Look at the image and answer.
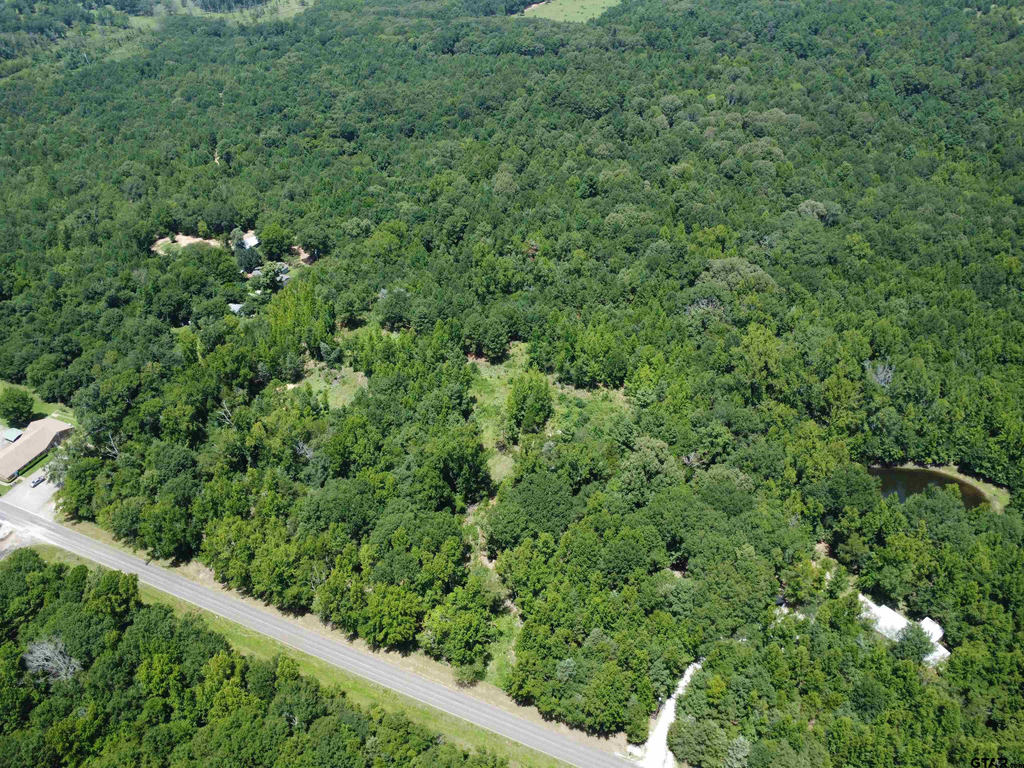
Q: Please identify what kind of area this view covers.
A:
forest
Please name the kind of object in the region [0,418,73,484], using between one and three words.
building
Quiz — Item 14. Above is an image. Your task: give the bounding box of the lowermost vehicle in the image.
[29,476,47,488]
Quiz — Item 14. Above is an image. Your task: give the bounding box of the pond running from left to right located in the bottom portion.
[864,467,990,517]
